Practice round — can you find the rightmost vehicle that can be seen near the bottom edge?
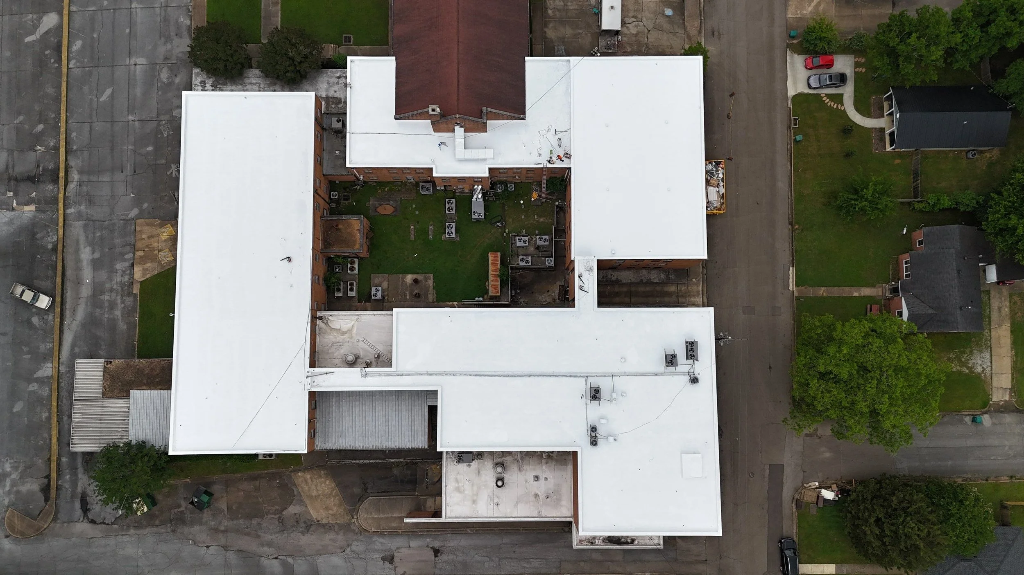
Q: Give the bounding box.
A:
[776,536,799,575]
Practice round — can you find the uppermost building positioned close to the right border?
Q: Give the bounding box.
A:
[882,86,1012,153]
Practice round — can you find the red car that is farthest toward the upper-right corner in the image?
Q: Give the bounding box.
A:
[802,53,834,71]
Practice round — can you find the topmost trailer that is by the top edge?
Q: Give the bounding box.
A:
[599,0,621,38]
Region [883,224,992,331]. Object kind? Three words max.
house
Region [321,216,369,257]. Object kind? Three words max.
shed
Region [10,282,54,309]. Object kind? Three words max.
truck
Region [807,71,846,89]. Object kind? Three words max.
car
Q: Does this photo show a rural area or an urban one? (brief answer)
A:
urban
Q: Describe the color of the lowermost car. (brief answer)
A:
black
